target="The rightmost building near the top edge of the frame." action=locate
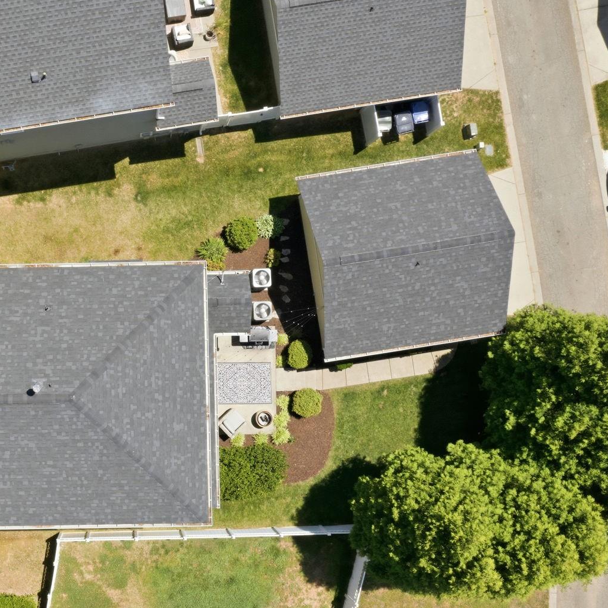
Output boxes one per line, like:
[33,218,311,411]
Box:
[260,0,469,120]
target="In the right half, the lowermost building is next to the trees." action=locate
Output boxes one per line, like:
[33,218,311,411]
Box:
[297,151,517,359]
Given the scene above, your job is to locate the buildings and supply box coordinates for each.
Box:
[260,0,469,120]
[297,151,517,359]
[0,0,219,157]
[0,261,254,531]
